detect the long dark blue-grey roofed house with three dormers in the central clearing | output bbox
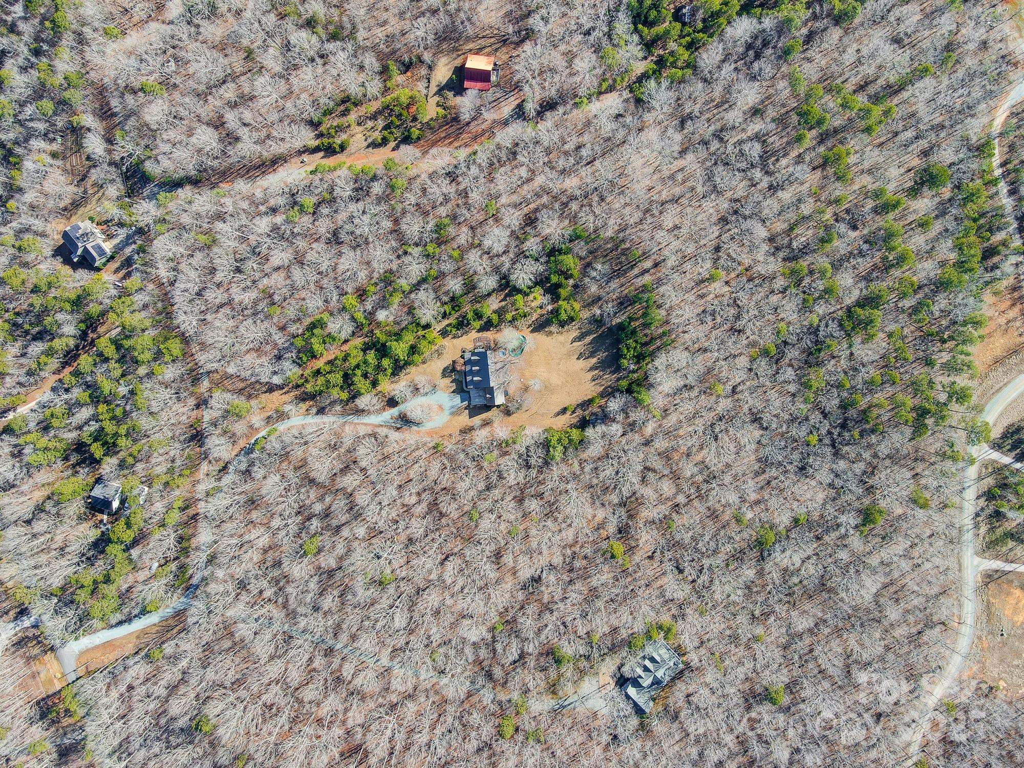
[462,349,509,405]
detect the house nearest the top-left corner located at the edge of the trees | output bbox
[63,222,116,267]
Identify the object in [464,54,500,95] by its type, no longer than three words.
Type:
barn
